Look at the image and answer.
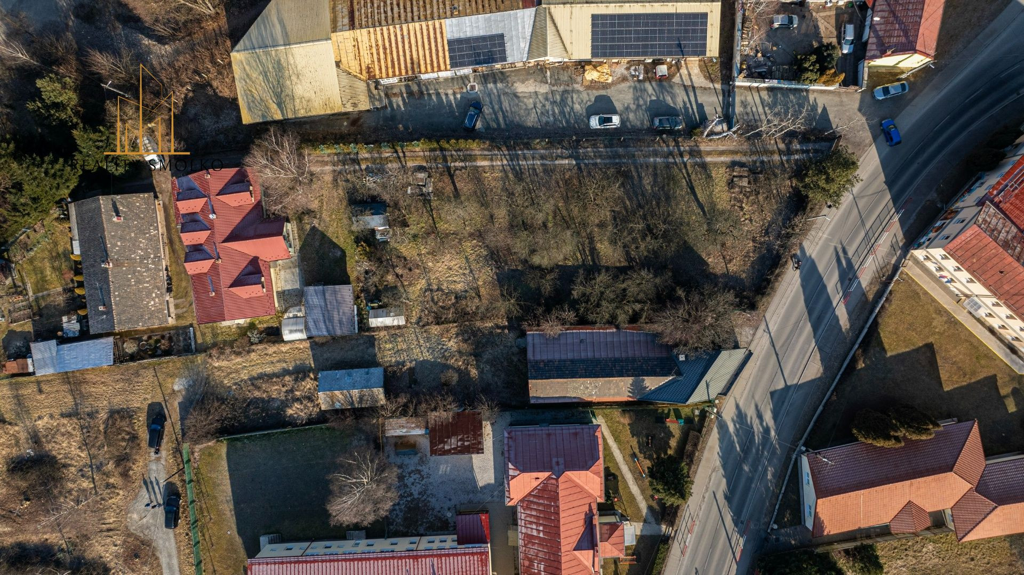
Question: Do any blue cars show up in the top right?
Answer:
Yes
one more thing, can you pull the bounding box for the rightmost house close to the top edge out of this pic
[856,0,945,65]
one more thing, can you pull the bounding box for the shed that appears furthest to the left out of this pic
[2,358,34,375]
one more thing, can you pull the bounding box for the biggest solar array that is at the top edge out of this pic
[592,13,708,57]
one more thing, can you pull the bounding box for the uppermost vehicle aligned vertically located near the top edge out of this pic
[840,22,857,57]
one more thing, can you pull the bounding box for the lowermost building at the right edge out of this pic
[800,419,1024,543]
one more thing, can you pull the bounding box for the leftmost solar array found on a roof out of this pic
[448,33,506,68]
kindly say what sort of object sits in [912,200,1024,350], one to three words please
building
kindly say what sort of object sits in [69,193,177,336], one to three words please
house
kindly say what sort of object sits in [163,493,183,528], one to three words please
car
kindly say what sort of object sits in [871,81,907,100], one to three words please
car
